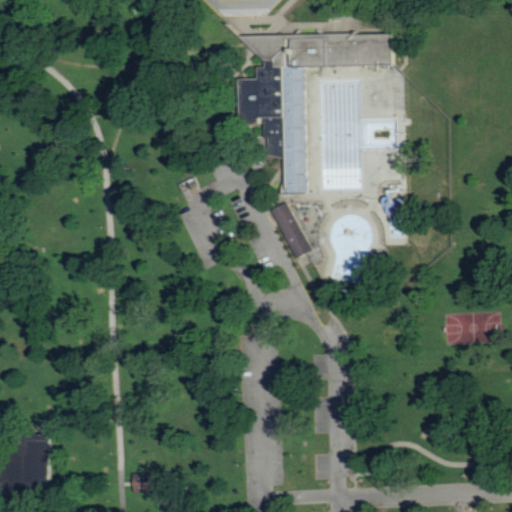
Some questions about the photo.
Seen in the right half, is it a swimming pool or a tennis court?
swimming pool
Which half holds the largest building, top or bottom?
top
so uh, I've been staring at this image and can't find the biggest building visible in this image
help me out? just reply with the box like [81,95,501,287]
[238,30,391,193]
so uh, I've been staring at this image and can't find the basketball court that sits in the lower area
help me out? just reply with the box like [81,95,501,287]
[446,312,502,345]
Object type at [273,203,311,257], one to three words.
building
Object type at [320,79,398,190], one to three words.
swimming pool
